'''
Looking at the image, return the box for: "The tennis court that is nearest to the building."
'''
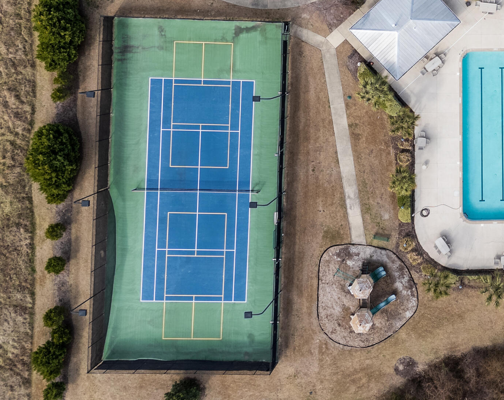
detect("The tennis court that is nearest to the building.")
[103,15,292,362]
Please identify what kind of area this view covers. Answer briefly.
sports ground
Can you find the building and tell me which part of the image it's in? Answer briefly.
top right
